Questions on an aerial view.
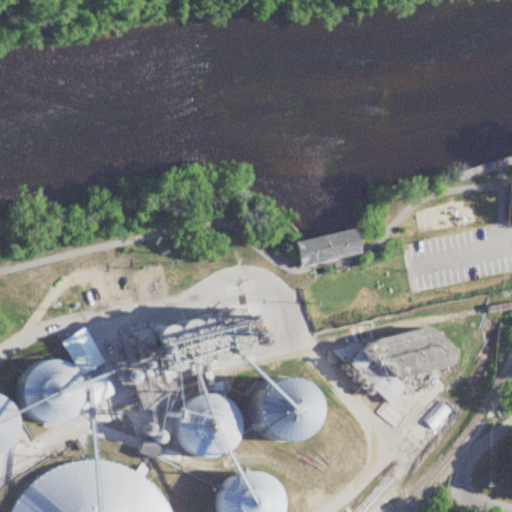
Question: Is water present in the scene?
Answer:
Yes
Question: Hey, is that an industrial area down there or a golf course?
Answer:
industrial area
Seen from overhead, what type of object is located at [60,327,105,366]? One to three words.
shed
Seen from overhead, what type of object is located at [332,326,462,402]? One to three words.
building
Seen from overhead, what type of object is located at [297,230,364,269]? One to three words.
building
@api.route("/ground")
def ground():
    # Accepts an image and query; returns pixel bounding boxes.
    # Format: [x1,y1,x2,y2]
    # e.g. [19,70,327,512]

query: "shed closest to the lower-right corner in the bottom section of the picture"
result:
[422,403,452,430]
